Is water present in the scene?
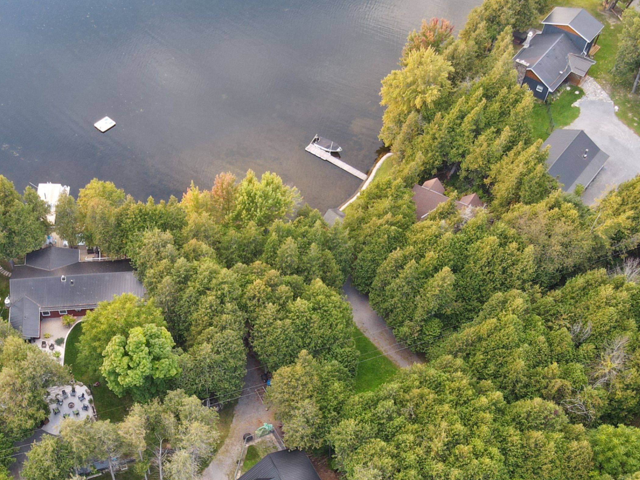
Yes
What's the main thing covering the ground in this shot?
trees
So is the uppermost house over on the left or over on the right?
right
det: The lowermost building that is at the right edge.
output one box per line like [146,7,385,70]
[544,128,614,205]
